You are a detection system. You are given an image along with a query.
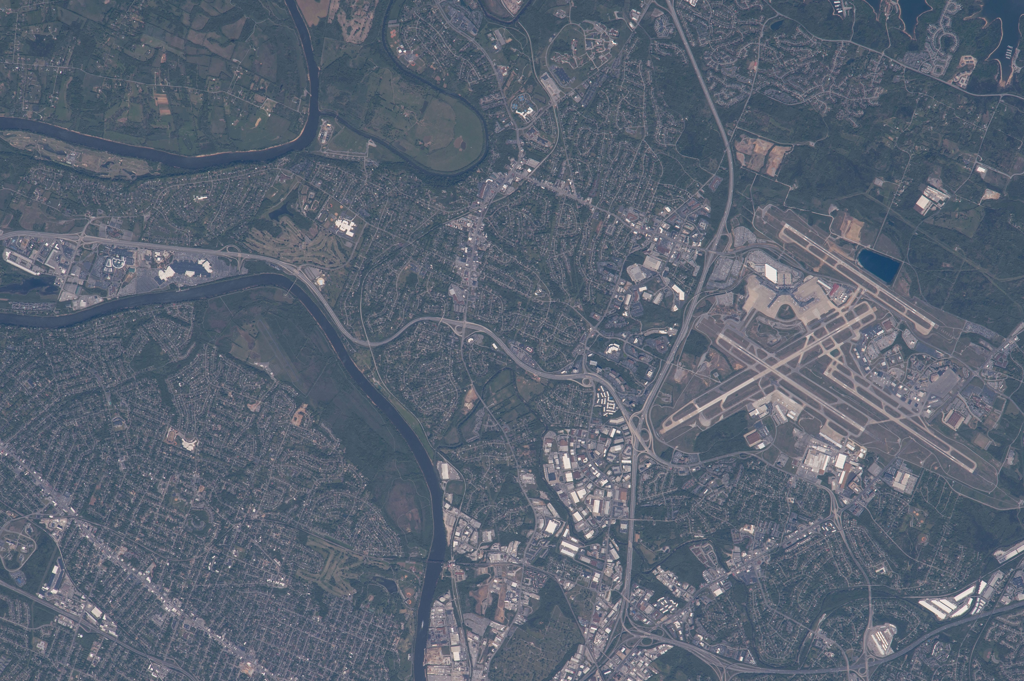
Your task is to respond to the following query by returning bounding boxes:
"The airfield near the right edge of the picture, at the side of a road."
[651,208,997,491]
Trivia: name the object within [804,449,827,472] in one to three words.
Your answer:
building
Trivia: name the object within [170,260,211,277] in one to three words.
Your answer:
building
